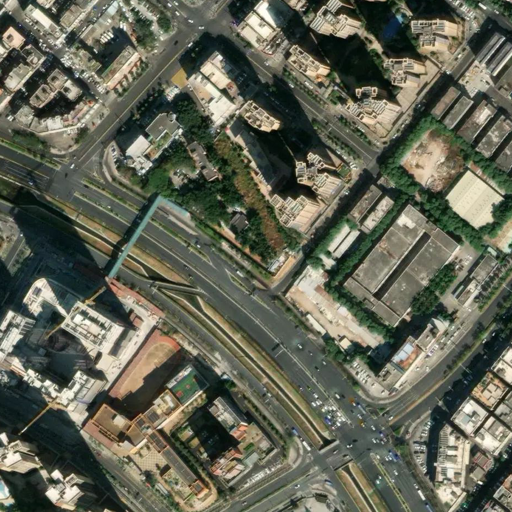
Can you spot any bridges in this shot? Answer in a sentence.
Yes, the picture does show a bridge.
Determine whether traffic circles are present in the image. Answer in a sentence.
No, this view has no traffic circle in it.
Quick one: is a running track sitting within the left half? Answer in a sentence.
Yes, looking within the left half, one can make out a running track.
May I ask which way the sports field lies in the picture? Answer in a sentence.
In this picture, the sports field lies at an angle.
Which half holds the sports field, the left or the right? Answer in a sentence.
The sports field is on the left side of the image.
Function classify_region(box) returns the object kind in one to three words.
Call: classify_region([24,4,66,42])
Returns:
building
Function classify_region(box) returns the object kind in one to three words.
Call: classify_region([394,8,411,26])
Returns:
swimming pool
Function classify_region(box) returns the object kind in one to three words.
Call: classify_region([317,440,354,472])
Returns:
bridge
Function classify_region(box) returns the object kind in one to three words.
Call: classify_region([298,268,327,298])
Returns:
shed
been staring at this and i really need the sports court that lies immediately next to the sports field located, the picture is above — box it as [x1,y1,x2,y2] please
[168,365,212,405]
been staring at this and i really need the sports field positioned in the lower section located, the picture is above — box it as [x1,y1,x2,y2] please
[119,342,176,402]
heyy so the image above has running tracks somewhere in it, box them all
[108,328,180,405]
